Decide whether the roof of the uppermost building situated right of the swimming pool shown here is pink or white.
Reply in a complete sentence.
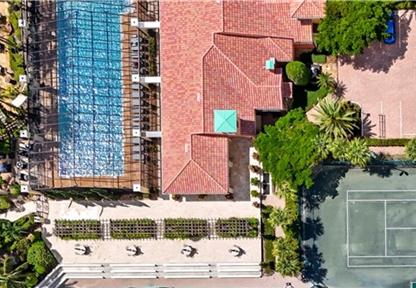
The color of the roof of the uppermost building situated right of the swimming pool is pink.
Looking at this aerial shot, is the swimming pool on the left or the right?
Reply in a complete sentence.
It is on the left.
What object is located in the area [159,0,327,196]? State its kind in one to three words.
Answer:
building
